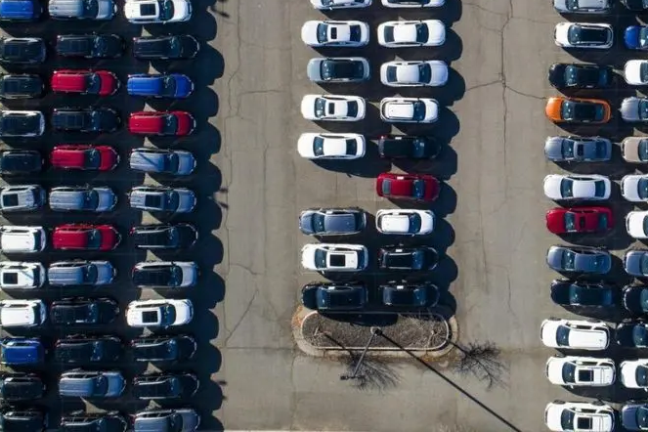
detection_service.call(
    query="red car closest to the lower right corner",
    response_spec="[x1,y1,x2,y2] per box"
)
[546,205,615,236]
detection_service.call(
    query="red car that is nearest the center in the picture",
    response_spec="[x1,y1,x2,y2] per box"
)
[377,173,441,203]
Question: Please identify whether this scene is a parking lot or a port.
parking lot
